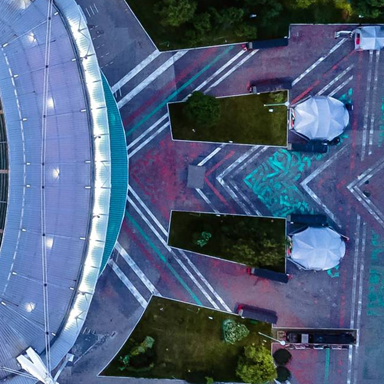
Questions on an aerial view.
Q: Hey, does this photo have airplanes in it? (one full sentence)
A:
No, no airplane is visible in the scene.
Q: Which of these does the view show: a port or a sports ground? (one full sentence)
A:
The picture captures a sports ground.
